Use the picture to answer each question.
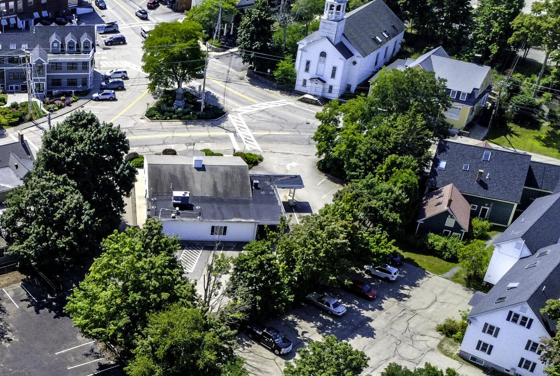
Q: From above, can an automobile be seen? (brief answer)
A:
Yes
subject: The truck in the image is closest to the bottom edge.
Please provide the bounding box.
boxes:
[243,326,294,356]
